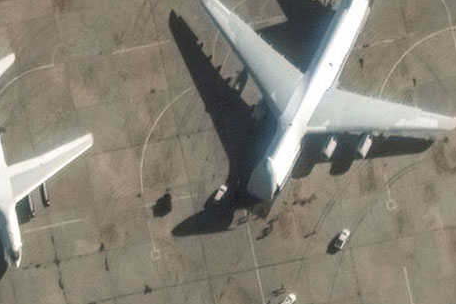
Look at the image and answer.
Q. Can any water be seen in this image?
No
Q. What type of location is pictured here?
airport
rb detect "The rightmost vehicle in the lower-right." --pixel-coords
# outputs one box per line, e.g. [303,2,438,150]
[334,230,350,251]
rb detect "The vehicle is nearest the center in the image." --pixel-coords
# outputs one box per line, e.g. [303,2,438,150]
[213,184,228,204]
